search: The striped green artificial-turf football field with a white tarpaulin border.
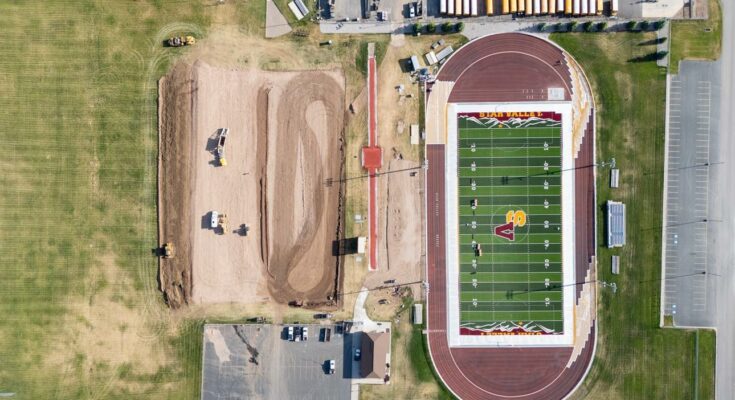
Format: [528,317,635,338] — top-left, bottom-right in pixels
[446,101,574,348]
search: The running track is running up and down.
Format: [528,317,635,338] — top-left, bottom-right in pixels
[422,31,597,400]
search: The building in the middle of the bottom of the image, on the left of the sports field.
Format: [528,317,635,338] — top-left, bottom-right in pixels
[360,333,388,380]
